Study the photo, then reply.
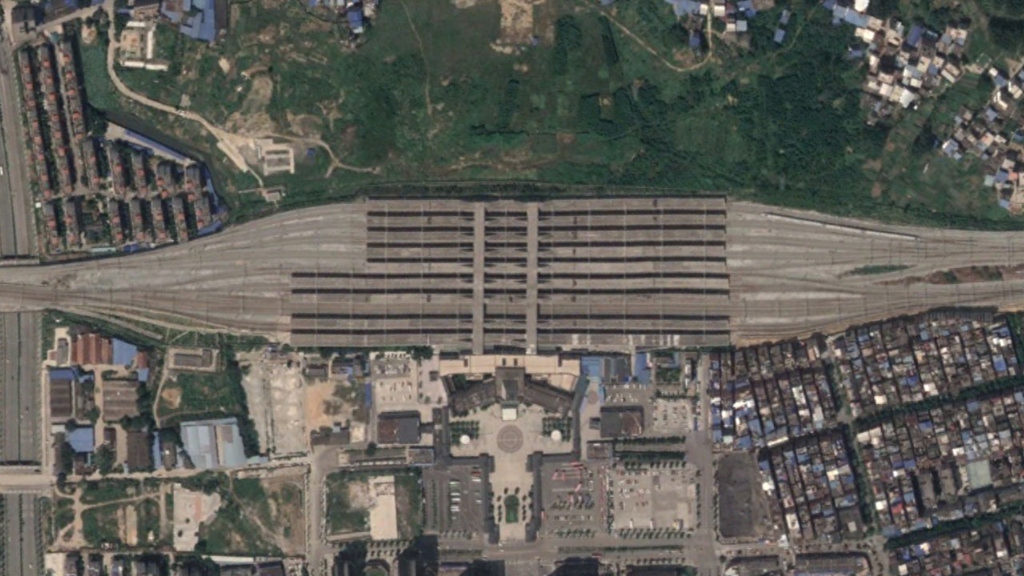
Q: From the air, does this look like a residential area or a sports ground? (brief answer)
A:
residential area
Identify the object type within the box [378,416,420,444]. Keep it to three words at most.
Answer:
building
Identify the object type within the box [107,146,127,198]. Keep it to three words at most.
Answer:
building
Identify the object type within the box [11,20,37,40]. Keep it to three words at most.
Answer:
house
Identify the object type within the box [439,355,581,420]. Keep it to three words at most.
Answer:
train station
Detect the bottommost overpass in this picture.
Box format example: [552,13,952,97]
[0,466,67,492]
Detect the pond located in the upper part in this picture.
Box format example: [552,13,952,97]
[83,41,126,110]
